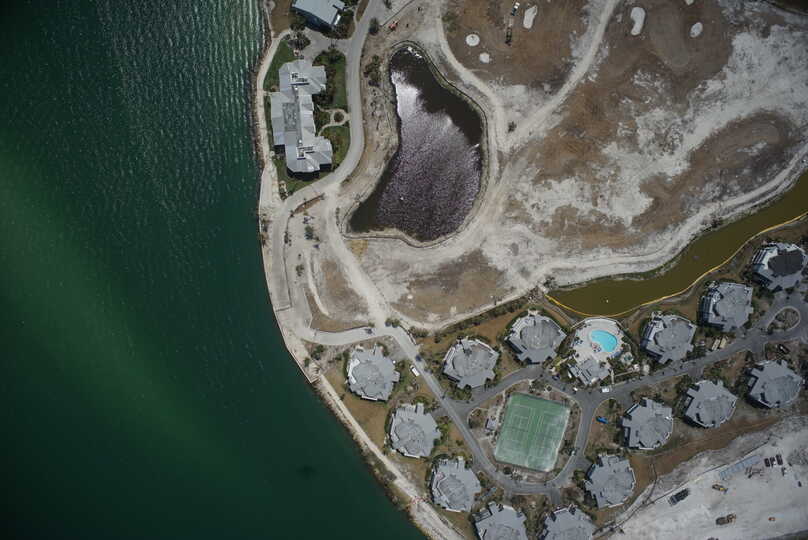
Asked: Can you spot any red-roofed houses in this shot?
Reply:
No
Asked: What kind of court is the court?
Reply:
tennis court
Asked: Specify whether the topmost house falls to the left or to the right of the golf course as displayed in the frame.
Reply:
left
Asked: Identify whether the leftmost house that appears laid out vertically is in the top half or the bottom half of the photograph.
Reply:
top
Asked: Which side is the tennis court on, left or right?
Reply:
right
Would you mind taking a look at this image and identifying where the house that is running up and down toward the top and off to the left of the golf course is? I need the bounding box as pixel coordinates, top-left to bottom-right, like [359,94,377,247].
[271,58,333,173]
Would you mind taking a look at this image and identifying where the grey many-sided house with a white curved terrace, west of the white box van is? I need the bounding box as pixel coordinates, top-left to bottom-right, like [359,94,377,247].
[347,351,400,403]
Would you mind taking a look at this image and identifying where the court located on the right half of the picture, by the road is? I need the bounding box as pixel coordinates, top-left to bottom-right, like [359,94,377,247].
[495,393,570,472]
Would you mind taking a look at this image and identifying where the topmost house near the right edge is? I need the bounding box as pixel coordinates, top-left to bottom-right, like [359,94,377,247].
[746,242,808,291]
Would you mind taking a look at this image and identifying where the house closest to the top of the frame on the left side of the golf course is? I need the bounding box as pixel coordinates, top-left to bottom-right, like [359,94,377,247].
[296,0,344,28]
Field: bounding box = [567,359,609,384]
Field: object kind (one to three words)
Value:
building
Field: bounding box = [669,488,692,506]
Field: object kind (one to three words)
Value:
vehicle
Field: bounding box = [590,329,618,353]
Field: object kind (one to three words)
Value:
swimming pool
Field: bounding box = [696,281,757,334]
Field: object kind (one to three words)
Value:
house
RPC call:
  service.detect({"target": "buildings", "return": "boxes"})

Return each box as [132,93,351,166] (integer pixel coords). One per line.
[746,242,808,291]
[388,408,441,461]
[271,58,333,173]
[347,351,400,403]
[567,359,609,384]
[622,396,676,448]
[635,316,698,366]
[696,281,757,334]
[443,339,499,389]
[588,453,638,507]
[471,508,531,540]
[296,0,344,28]
[546,504,599,540]
[430,460,483,514]
[511,313,568,363]
[680,375,742,426]
[745,355,806,407]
